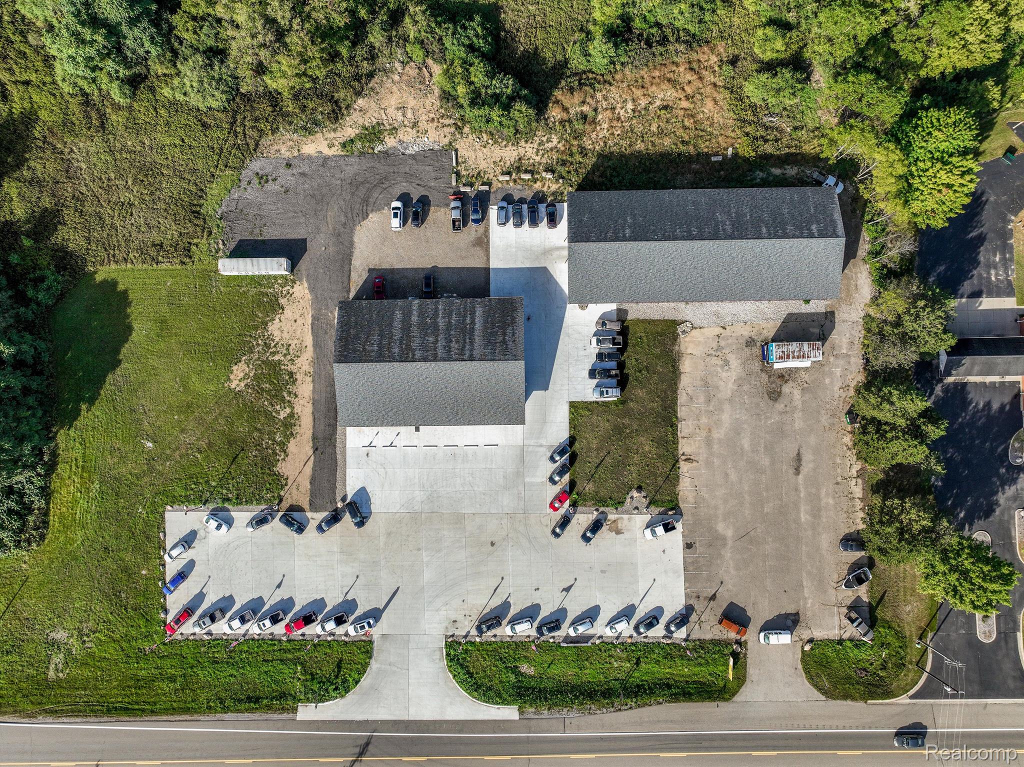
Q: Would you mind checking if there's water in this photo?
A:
No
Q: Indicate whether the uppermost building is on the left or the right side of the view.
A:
right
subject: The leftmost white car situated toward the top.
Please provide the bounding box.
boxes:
[390,202,403,231]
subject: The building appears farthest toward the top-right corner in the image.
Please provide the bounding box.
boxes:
[567,186,846,304]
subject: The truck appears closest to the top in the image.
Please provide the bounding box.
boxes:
[808,170,843,192]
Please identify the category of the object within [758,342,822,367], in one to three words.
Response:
truck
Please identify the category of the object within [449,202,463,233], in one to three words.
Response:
vehicle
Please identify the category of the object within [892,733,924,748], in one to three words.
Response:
car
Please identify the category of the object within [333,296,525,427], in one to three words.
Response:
building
